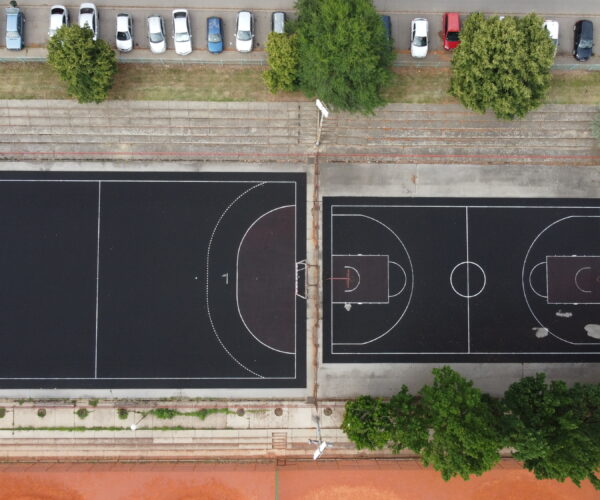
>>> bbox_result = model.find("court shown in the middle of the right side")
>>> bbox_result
[323,196,600,363]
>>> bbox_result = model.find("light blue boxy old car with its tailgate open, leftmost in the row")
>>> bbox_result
[4,3,27,52]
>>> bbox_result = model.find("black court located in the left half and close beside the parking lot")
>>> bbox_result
[0,171,306,389]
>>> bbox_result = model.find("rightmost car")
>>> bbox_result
[572,18,595,63]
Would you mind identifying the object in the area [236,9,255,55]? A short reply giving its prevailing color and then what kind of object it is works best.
white car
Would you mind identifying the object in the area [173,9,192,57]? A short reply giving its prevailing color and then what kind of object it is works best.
white car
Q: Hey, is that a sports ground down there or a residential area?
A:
sports ground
